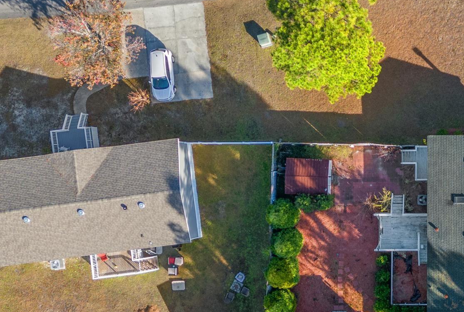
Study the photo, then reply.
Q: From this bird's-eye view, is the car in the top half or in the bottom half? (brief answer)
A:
top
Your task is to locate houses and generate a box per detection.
[0,137,205,267]
[424,133,464,312]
